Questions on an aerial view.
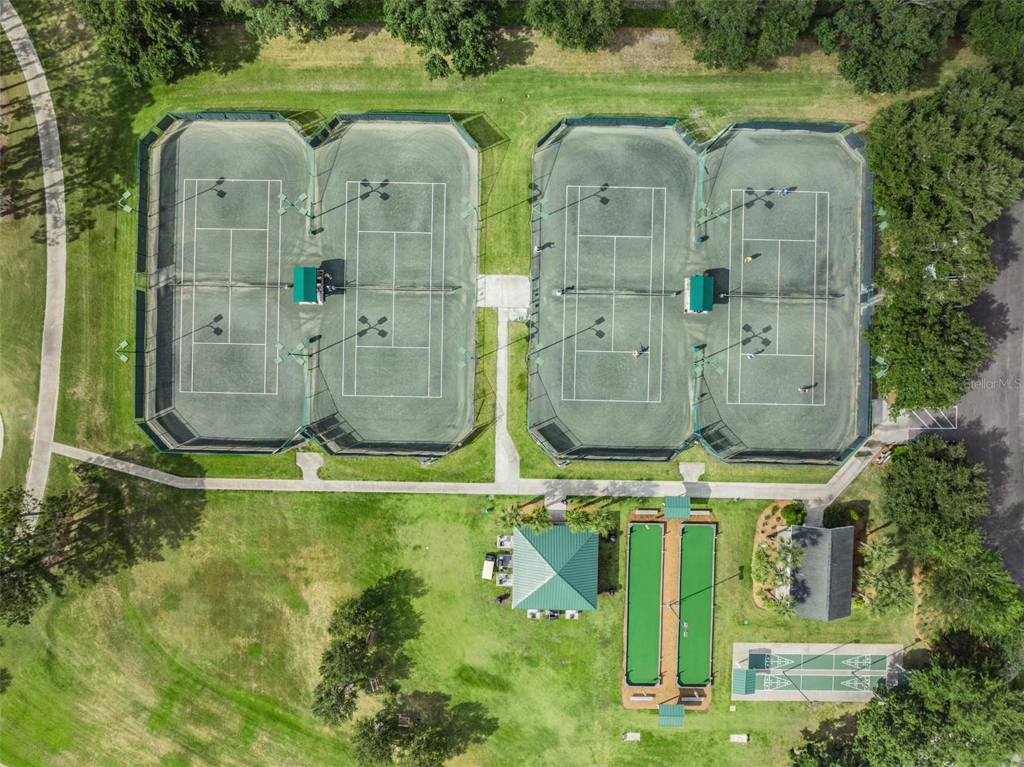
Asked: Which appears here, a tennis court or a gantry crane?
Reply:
tennis court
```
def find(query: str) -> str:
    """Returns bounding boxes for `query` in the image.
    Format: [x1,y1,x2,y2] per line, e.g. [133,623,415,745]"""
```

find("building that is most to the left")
[512,524,599,611]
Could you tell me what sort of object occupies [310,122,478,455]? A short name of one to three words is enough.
tennis court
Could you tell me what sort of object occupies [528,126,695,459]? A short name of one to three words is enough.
tennis court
